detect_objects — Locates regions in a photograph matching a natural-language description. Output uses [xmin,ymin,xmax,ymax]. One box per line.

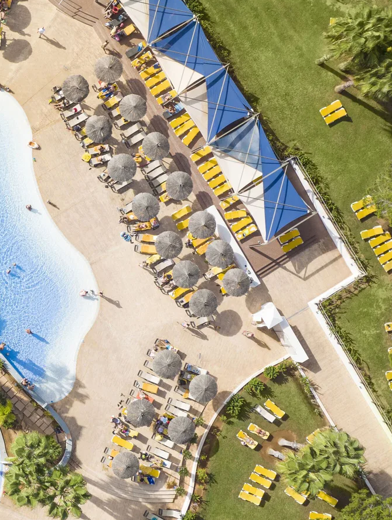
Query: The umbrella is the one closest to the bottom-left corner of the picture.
[111,449,139,478]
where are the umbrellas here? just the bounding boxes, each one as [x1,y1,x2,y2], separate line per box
[220,268,249,298]
[163,170,192,200]
[152,350,181,378]
[141,131,169,161]
[92,55,122,85]
[165,416,194,444]
[188,289,217,319]
[204,239,233,268]
[188,374,216,402]
[153,230,181,259]
[82,115,112,145]
[128,192,158,222]
[186,210,215,240]
[107,153,136,182]
[117,93,147,122]
[111,449,139,478]
[169,261,199,290]
[124,397,153,427]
